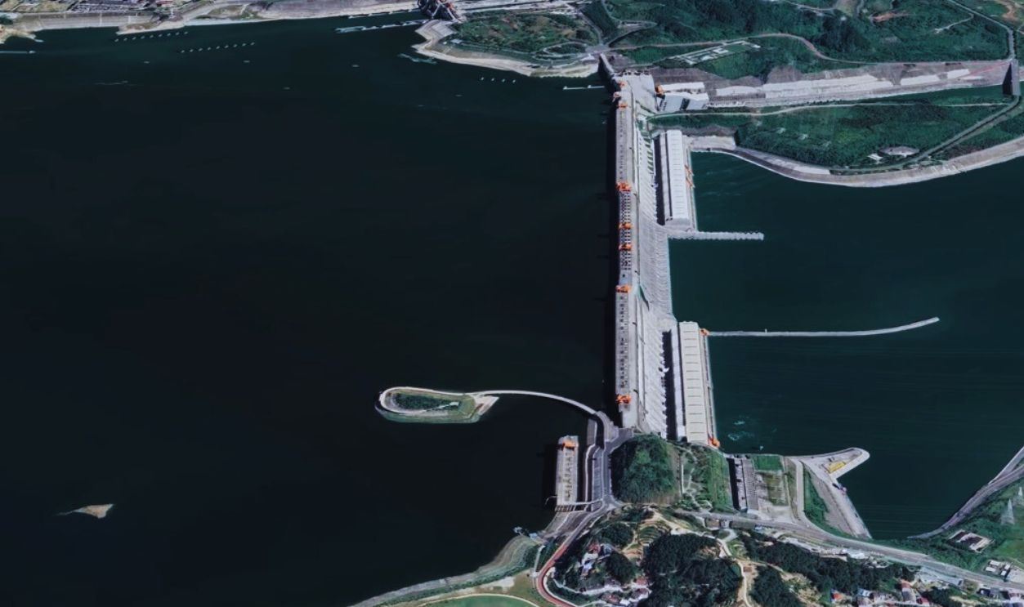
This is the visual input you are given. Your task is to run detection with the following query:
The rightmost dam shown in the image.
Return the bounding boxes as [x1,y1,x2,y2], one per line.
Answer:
[614,73,698,449]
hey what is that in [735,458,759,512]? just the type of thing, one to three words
building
